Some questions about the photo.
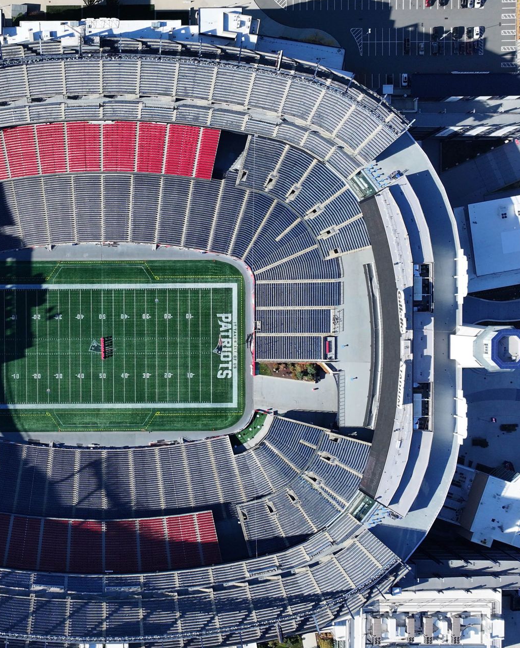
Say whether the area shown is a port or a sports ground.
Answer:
sports ground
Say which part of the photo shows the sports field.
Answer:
left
